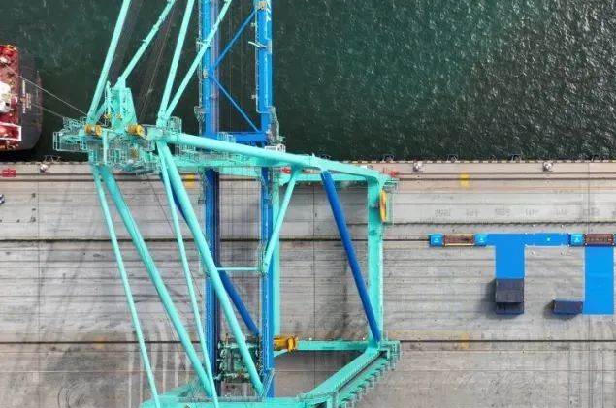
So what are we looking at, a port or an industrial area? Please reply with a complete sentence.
This looks like a port.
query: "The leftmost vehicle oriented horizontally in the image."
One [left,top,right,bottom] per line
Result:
[430,233,486,245]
